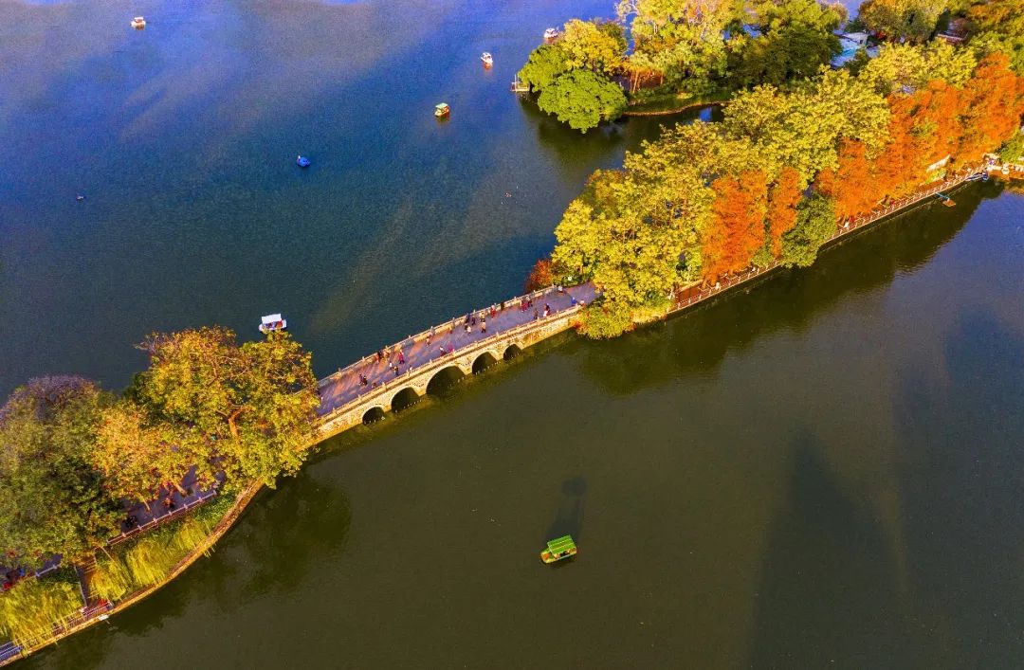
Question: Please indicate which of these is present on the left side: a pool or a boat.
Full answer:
The feature located on the left side is a boat.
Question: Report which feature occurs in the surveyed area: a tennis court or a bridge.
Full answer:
This aerial view contains a bridge.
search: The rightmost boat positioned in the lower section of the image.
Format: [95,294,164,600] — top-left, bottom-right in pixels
[543,532,579,564]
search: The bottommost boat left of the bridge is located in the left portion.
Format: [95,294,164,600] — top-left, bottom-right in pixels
[258,312,287,334]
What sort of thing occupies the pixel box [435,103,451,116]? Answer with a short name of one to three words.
boat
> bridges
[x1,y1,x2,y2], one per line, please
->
[291,283,577,445]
